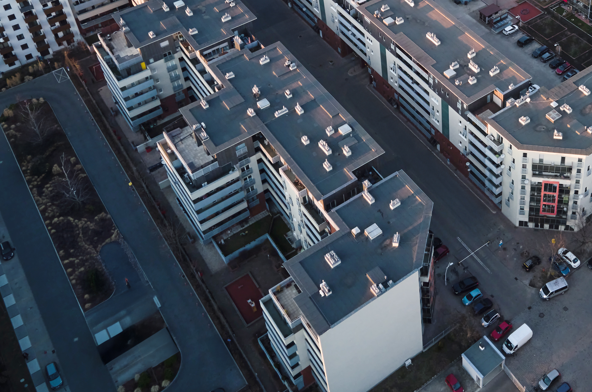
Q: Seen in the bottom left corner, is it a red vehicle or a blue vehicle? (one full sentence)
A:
Visible in the bottom left corner is a blue vehicle.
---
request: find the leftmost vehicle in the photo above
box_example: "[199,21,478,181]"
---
[0,240,15,262]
